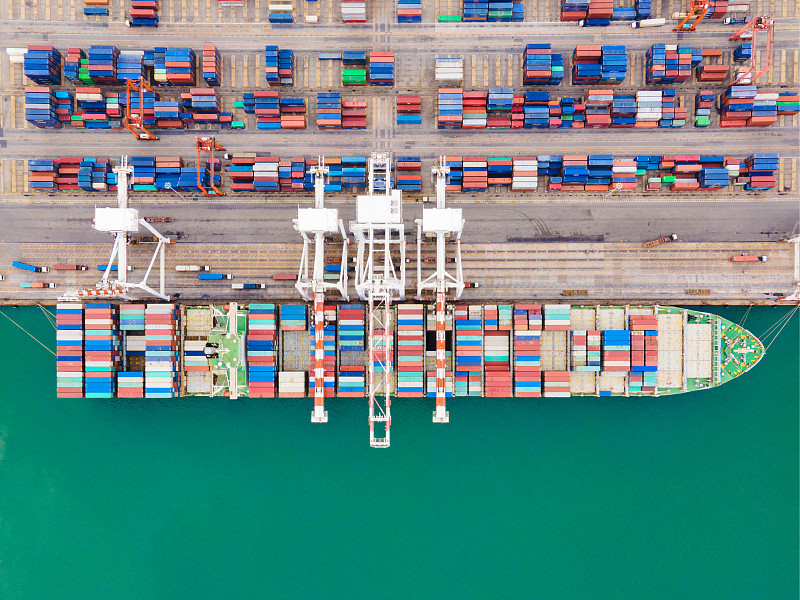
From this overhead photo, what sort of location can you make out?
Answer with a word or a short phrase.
port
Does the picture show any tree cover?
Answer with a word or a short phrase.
No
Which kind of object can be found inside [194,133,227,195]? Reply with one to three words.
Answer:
container crane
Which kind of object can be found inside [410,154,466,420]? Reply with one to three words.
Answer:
container crane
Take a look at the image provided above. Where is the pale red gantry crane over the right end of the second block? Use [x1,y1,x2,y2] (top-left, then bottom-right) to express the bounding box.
[730,14,773,85]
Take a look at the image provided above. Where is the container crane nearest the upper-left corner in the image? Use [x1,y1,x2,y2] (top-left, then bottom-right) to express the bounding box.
[123,73,160,140]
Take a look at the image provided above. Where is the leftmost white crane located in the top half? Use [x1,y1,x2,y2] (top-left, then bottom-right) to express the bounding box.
[47,154,179,299]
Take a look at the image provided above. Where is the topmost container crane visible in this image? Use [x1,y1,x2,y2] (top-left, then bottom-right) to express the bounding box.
[673,0,712,32]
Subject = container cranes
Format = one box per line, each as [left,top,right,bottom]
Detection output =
[410,154,466,420]
[730,14,773,85]
[194,133,227,195]
[47,154,179,299]
[673,0,712,32]
[294,154,354,420]
[350,146,413,448]
[123,73,160,140]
